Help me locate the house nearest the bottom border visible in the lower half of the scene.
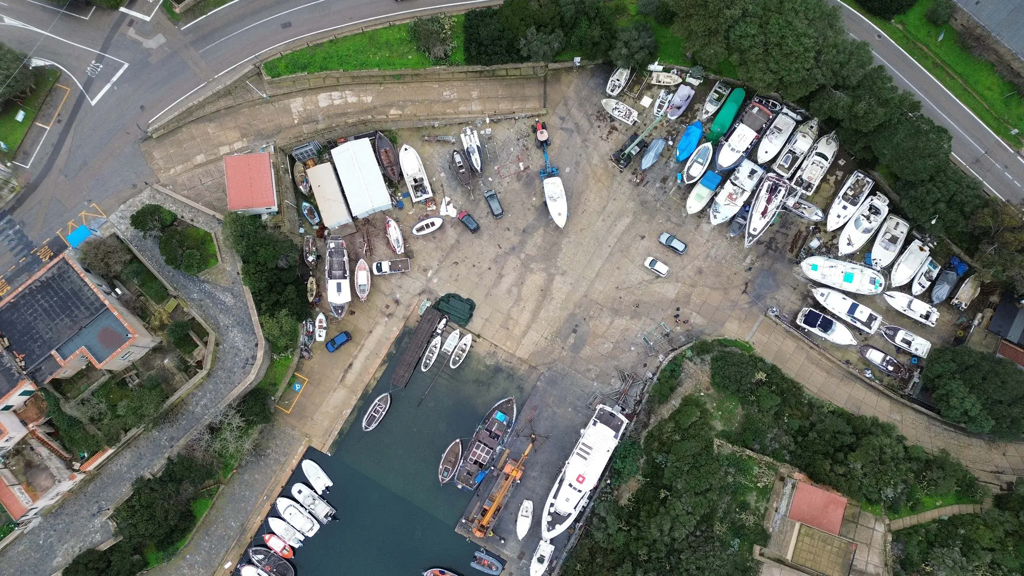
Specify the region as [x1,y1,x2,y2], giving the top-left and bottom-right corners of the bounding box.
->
[763,475,858,576]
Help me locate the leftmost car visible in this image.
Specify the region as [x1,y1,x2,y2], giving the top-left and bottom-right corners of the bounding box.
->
[325,330,354,354]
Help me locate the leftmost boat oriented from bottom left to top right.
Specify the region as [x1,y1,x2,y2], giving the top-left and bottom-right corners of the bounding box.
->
[363,393,389,432]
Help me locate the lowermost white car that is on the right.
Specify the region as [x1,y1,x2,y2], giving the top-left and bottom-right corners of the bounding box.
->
[642,255,672,280]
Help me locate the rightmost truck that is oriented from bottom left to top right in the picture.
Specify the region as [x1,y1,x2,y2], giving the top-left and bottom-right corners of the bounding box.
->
[607,106,674,177]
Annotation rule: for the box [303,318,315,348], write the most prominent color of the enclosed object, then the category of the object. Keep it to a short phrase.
gray boat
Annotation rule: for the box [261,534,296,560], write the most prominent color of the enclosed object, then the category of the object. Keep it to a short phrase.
white boat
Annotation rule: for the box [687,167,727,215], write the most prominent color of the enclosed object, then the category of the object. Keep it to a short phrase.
white boat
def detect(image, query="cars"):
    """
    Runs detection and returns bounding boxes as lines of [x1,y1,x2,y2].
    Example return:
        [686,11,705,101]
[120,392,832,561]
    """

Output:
[657,231,690,257]
[642,255,672,280]
[325,330,354,354]
[456,209,482,235]
[484,189,506,220]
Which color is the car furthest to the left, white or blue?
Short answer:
blue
